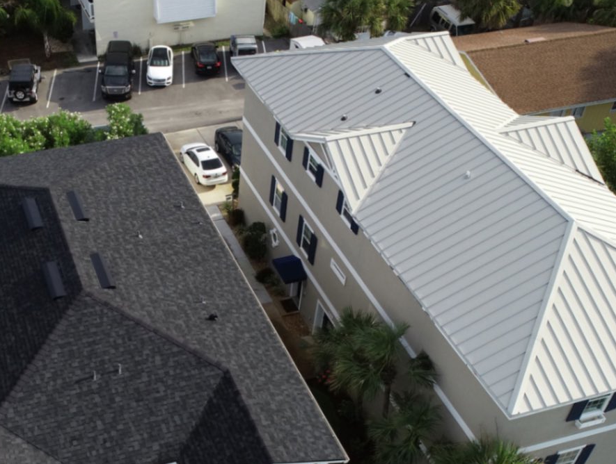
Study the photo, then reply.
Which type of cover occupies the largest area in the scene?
buildings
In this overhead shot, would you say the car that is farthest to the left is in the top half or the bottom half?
top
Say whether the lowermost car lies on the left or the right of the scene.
left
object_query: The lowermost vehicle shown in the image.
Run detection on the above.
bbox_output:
[181,146,231,193]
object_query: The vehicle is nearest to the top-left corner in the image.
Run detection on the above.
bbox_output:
[5,64,40,108]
